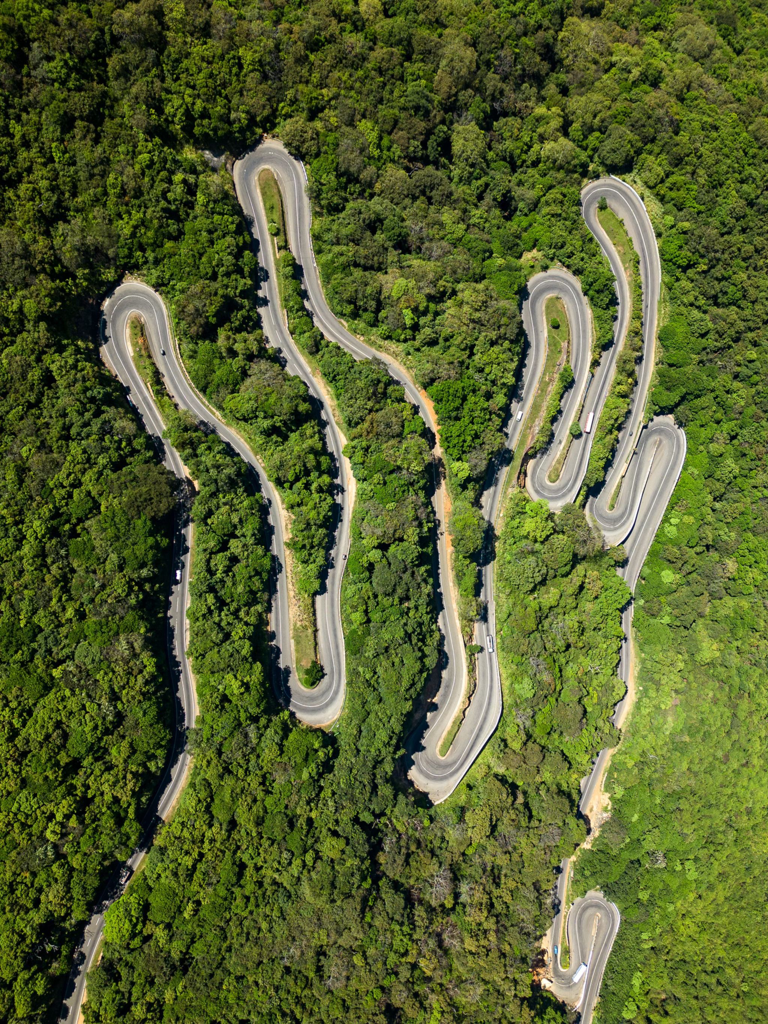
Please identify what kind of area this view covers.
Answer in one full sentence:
The picture captures a forest.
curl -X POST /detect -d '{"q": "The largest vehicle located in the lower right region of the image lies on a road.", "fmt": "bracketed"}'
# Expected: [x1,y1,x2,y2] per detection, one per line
[573,961,586,982]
